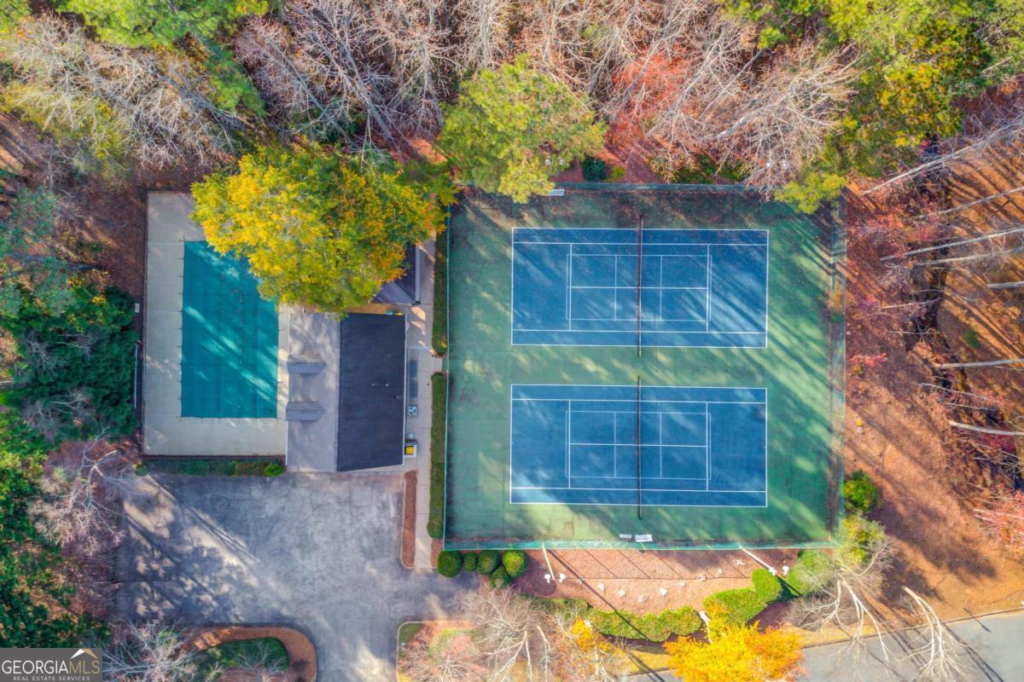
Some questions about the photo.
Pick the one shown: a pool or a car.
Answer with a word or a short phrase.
pool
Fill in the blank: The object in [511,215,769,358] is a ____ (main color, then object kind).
blue tennis court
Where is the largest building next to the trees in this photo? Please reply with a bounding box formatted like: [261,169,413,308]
[281,313,405,471]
